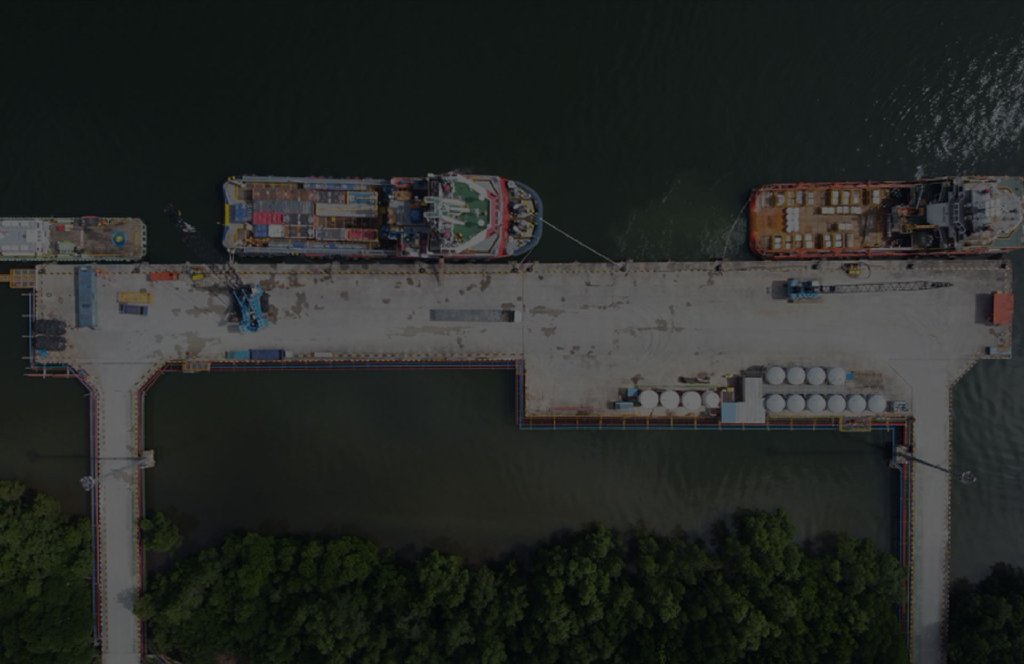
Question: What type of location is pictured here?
port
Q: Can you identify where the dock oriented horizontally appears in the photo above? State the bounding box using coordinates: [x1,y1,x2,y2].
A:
[35,254,1011,664]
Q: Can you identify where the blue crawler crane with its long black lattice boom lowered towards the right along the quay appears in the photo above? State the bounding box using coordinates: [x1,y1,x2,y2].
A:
[785,279,957,301]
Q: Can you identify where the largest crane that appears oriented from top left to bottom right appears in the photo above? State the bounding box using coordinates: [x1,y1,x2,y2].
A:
[164,207,270,339]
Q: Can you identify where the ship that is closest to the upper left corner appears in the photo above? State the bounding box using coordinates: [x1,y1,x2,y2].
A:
[0,216,151,263]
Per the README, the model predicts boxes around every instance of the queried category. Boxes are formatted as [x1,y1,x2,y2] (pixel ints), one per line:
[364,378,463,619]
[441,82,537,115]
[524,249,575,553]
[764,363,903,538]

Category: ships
[745,175,1024,259]
[222,171,544,258]
[0,216,151,263]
